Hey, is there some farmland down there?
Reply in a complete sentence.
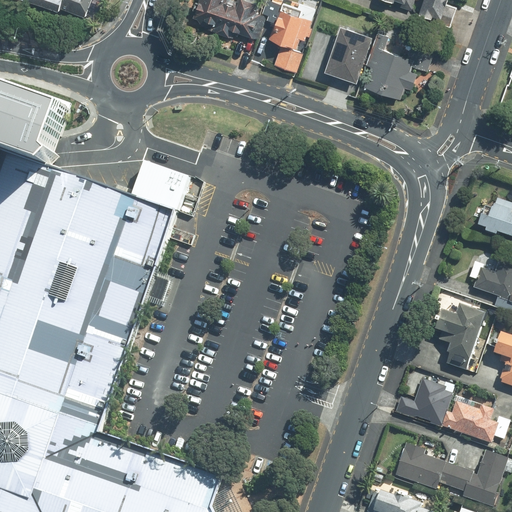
No, the picture contains no farmland.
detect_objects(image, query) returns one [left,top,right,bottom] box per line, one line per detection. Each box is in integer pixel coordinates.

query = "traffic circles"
[111,55,148,92]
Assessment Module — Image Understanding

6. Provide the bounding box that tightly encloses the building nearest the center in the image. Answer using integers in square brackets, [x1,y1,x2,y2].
[132,160,192,213]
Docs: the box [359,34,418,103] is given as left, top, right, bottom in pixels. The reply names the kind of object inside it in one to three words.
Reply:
house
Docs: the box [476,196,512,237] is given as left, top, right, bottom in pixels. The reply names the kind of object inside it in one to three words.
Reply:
house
